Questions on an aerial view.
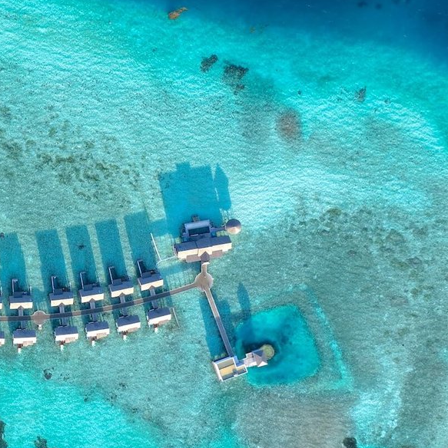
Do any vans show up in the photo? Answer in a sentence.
No, the picture doesn't show any van.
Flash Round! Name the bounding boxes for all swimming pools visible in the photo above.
[52,275,62,289]
[108,267,119,281]
[80,272,90,286]
[136,259,147,273]
[13,279,22,291]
